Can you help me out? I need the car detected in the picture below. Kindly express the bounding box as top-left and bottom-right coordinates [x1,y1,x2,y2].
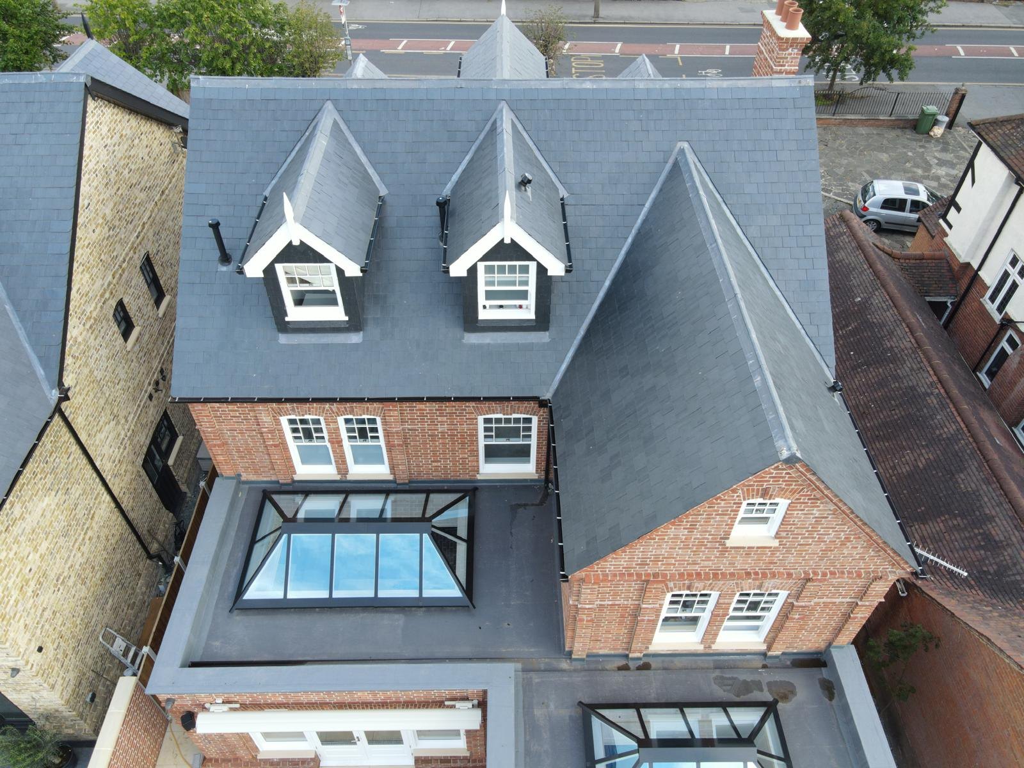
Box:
[856,178,945,237]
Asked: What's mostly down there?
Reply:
buildings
